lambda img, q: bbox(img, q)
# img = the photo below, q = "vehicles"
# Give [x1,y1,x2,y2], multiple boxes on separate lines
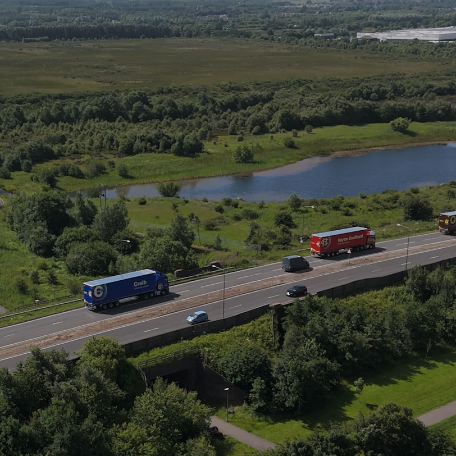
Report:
[437,212,456,234]
[82,269,168,308]
[282,255,311,273]
[310,227,377,257]
[286,285,309,298]
[185,310,211,324]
